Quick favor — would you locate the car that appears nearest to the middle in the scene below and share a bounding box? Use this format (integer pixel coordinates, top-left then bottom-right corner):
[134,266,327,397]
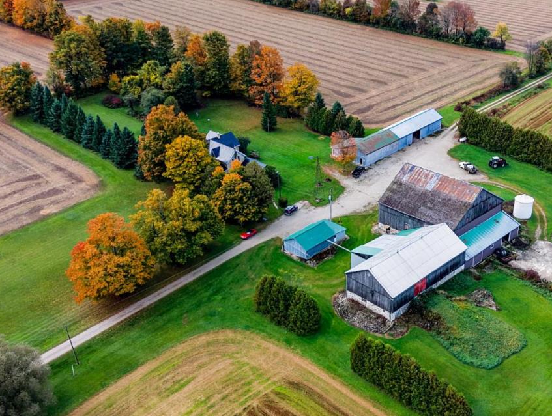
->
[281,199,301,214]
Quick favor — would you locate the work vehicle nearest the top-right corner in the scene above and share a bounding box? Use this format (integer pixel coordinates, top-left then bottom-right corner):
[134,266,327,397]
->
[488,154,511,168]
